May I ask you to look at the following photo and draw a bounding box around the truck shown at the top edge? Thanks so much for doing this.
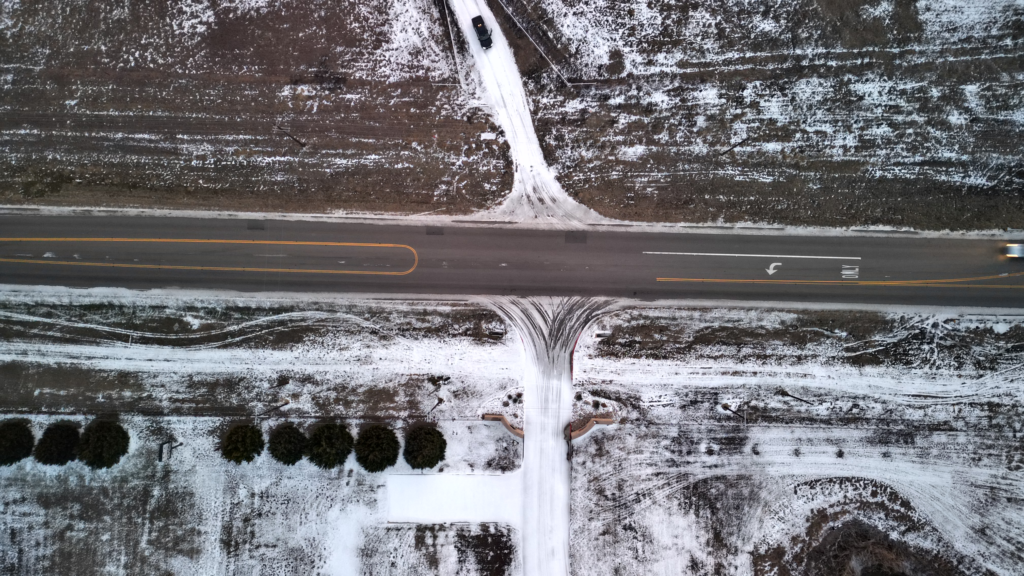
[471,15,492,51]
